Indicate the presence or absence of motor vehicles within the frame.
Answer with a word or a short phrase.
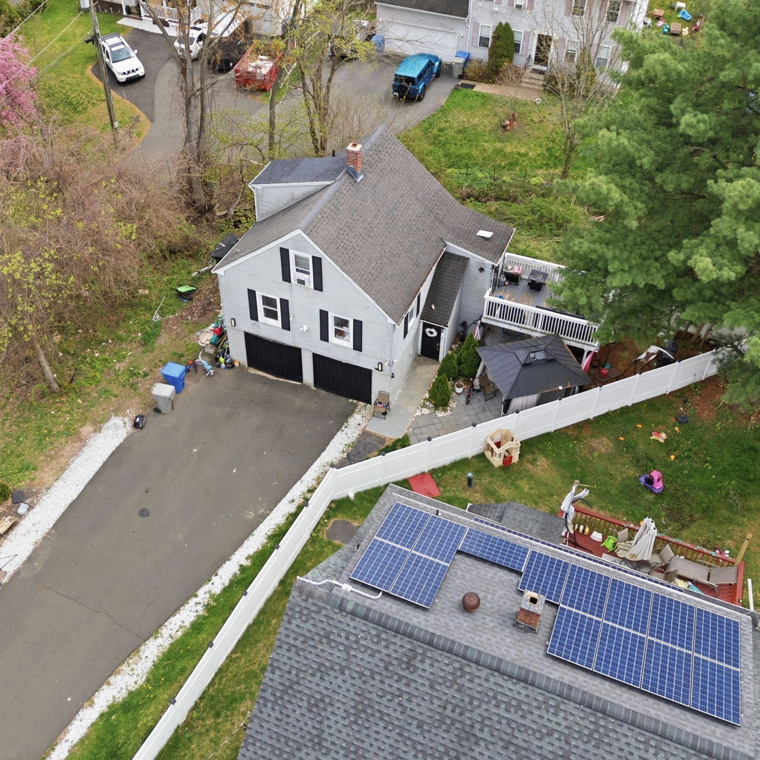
Yes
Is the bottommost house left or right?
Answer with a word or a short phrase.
right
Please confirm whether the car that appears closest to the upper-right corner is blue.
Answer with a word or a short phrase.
Yes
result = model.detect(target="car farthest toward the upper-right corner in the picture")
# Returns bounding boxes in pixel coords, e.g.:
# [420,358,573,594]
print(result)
[396,49,446,92]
